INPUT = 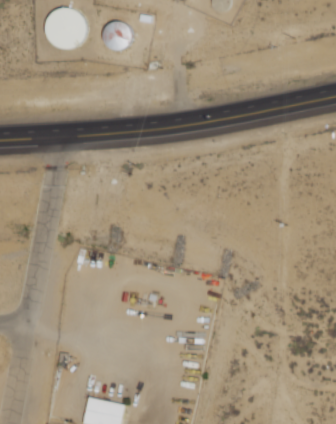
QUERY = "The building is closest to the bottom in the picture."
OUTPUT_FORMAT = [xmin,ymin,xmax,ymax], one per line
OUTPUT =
[83,396,126,424]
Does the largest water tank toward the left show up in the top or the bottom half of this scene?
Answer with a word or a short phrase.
top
